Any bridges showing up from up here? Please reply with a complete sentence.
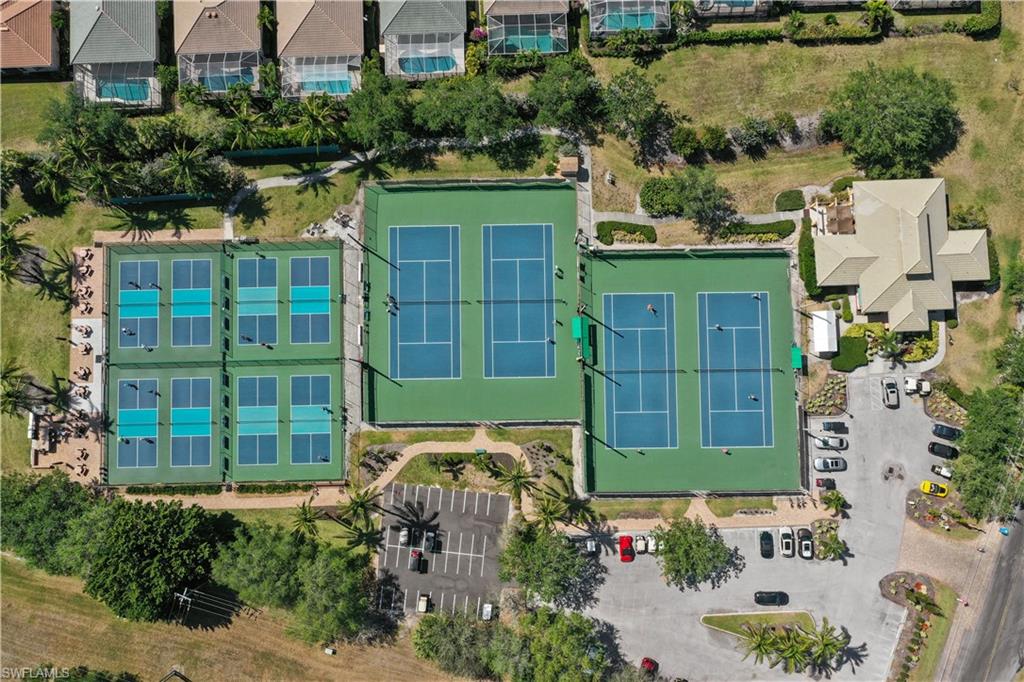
No, I can see no bridge in this picture.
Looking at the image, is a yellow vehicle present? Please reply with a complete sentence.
Yes, the image includes a yellow vehicle.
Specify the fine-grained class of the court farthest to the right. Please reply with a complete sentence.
What you see as the court farthest to the right is a tennis court.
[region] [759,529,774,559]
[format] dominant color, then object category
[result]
black car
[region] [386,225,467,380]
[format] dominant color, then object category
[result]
blue tennis court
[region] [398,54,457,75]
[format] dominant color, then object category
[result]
blue swimming pool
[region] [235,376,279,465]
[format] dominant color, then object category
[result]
blue sports court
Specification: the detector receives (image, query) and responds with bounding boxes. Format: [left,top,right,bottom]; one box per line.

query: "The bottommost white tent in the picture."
[807,309,838,358]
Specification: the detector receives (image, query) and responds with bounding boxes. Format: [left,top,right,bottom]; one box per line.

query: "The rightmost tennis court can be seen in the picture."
[694,292,780,448]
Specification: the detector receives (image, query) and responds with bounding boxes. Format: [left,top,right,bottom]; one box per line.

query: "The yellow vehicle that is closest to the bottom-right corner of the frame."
[919,481,949,497]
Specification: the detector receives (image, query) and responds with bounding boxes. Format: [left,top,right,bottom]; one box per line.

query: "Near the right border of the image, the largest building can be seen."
[812,178,990,332]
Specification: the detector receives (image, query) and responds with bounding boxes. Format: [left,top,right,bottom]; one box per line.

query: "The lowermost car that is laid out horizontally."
[754,591,787,606]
